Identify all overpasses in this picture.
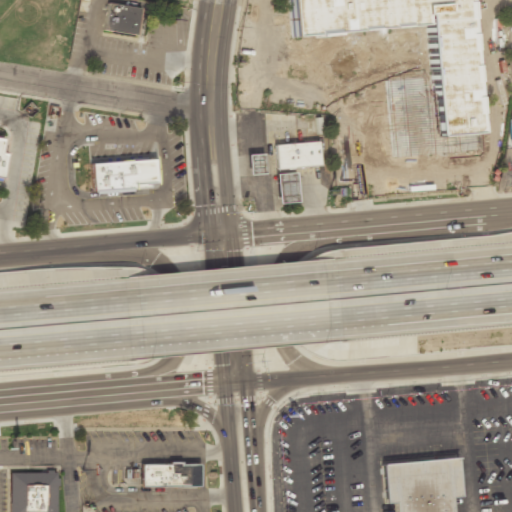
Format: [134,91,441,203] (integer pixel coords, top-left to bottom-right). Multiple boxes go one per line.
[150,259,303,356]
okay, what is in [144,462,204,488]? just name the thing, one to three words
building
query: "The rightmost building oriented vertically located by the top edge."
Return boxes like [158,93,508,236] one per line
[427,0,491,138]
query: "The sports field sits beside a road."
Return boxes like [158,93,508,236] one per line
[0,0,80,70]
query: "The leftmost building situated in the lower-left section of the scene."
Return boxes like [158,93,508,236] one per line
[12,468,60,512]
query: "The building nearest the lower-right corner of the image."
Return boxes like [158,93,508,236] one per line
[386,458,466,512]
